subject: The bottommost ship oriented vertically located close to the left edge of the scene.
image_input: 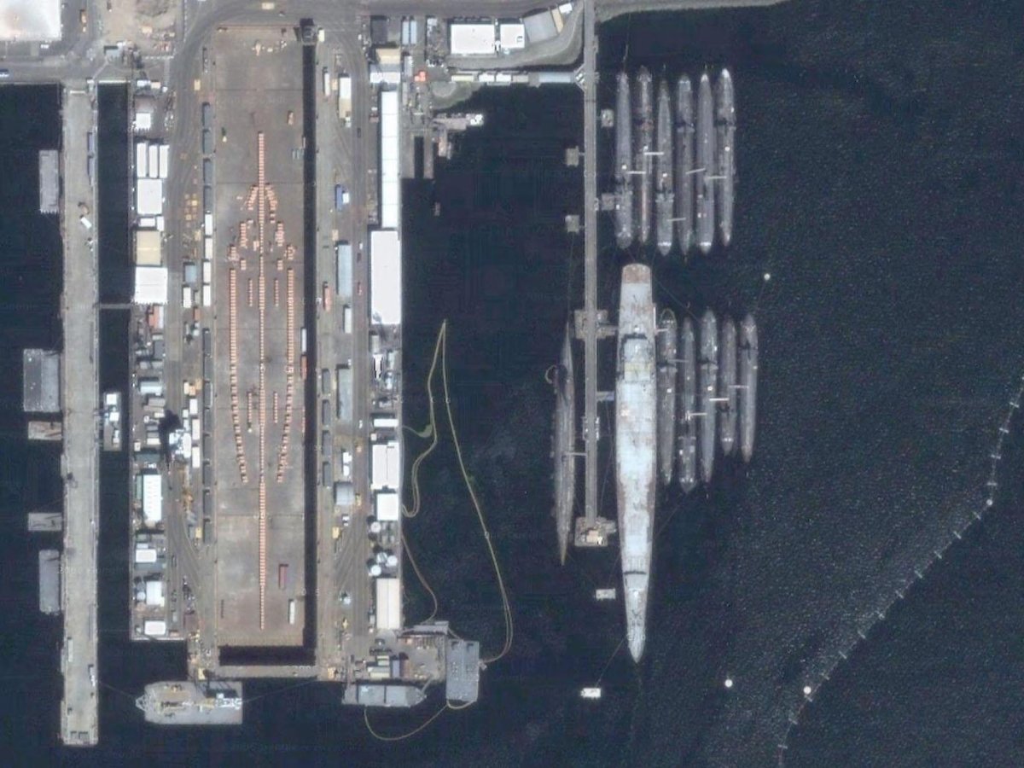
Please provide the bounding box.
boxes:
[39,550,60,614]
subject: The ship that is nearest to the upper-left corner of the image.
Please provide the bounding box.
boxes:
[40,150,59,214]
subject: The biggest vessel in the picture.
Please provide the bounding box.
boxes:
[617,263,656,663]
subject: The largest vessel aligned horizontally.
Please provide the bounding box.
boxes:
[136,682,243,724]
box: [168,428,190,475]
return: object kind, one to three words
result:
crane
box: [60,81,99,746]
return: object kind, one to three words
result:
pier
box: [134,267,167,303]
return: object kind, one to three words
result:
building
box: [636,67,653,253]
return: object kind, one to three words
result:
ship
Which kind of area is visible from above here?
port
